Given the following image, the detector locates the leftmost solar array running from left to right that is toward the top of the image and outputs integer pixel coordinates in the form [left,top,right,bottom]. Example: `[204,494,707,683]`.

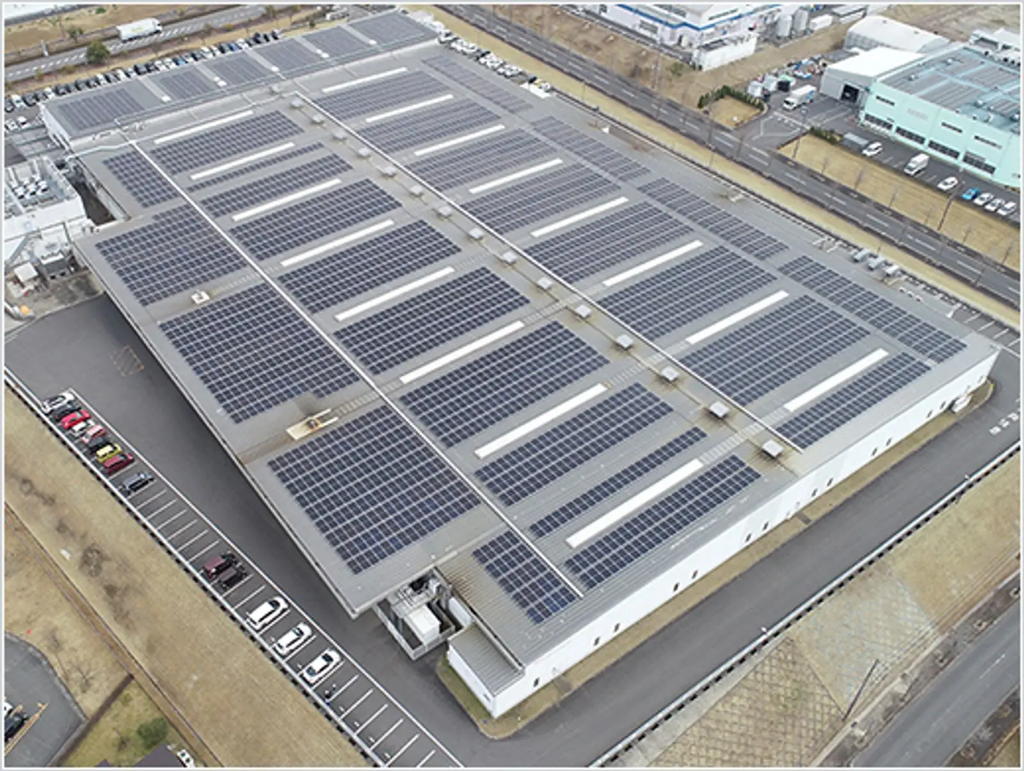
[58,87,144,128]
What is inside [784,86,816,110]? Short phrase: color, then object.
white truck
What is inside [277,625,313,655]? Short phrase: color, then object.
white car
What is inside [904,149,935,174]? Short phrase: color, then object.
white vehicle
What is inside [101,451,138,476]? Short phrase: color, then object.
red car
